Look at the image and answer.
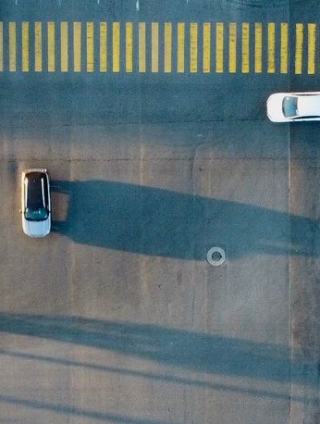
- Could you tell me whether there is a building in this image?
No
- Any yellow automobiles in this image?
No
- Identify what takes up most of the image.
paved ground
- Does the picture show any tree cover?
No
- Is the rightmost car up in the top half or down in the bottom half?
top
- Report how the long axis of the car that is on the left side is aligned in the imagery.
from top to bottom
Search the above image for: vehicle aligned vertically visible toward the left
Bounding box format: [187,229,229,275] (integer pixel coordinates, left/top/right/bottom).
[20,170,52,236]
